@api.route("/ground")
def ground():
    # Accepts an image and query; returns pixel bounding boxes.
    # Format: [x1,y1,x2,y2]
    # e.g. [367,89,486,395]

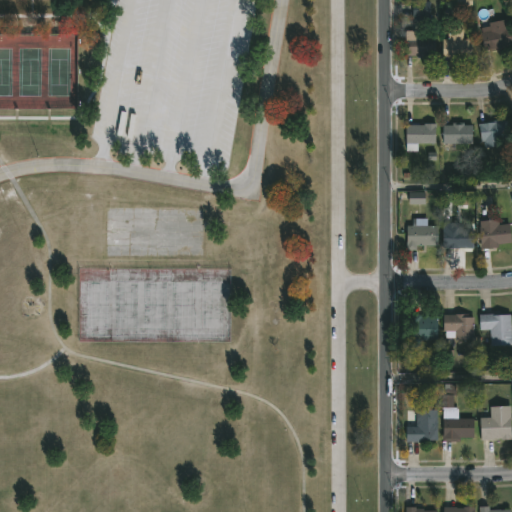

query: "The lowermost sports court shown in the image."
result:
[79,268,231,342]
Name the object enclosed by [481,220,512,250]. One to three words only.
house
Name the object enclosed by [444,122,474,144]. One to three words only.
house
